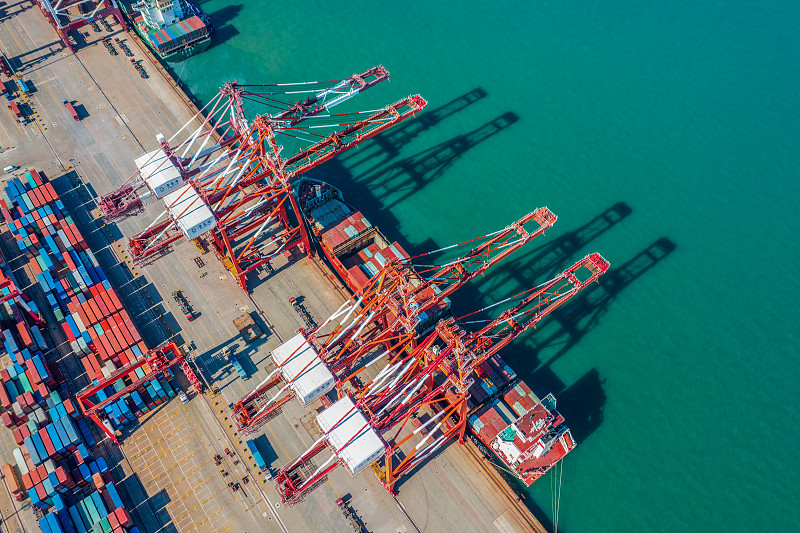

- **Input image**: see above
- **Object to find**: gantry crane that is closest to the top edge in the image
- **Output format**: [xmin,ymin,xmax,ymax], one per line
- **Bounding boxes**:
[43,0,132,58]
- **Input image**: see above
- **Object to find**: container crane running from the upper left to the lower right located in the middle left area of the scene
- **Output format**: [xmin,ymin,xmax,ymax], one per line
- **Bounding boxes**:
[0,284,55,342]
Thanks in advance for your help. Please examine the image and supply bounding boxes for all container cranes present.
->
[43,0,132,58]
[264,257,613,522]
[121,98,430,303]
[76,339,205,449]
[0,284,55,342]
[221,211,560,449]
[95,67,395,263]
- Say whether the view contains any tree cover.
No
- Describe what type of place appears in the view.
port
